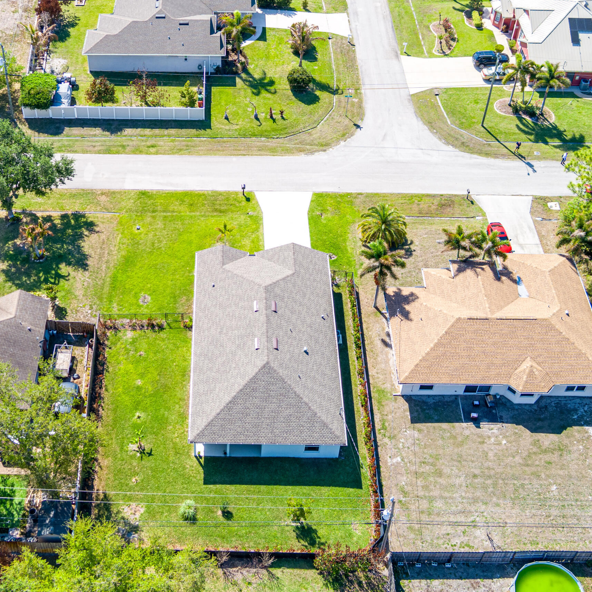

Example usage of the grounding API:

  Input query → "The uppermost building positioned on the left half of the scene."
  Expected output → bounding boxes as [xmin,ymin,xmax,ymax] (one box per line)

[81,0,257,76]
